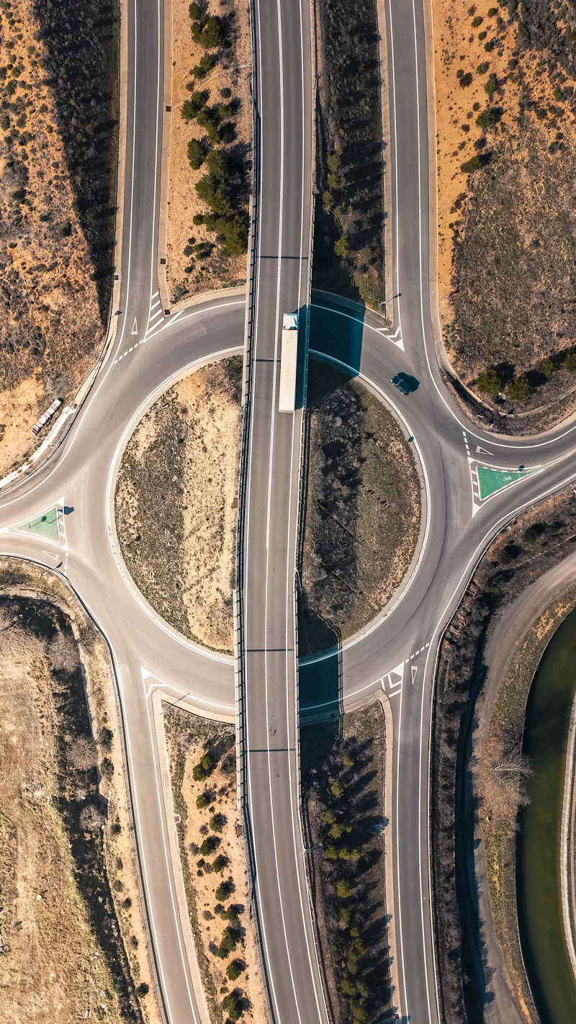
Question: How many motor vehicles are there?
2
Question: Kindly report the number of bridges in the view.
2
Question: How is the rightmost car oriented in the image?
on a diagonal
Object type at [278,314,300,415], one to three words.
truck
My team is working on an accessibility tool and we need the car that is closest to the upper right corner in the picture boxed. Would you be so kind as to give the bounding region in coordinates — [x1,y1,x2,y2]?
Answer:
[390,376,412,398]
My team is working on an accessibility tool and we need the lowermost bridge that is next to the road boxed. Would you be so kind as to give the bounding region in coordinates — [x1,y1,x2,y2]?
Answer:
[231,569,305,850]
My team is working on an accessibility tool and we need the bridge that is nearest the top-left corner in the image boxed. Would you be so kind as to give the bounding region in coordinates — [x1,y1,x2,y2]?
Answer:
[239,194,314,407]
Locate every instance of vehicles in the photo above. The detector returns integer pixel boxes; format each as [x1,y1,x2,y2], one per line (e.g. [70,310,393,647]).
[278,314,300,415]
[390,376,412,398]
